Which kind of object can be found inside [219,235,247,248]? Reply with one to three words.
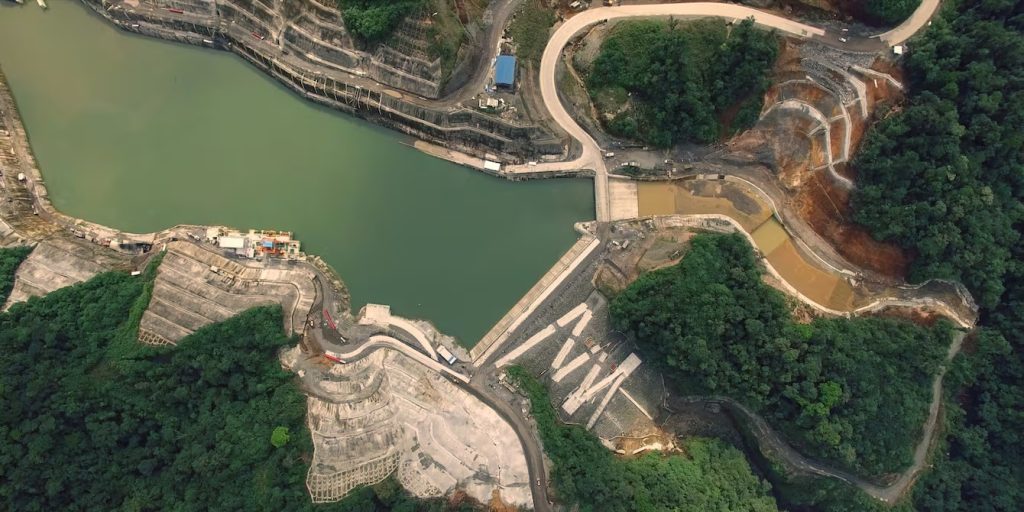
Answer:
building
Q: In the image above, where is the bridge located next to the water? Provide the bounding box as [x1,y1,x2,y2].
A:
[594,180,609,223]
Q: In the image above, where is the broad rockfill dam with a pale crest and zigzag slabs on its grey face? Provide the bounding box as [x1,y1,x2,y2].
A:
[471,235,665,441]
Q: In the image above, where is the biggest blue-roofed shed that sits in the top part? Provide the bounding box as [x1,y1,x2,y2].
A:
[496,55,516,88]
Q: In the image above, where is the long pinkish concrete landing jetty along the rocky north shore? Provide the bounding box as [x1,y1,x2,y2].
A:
[415,141,485,171]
